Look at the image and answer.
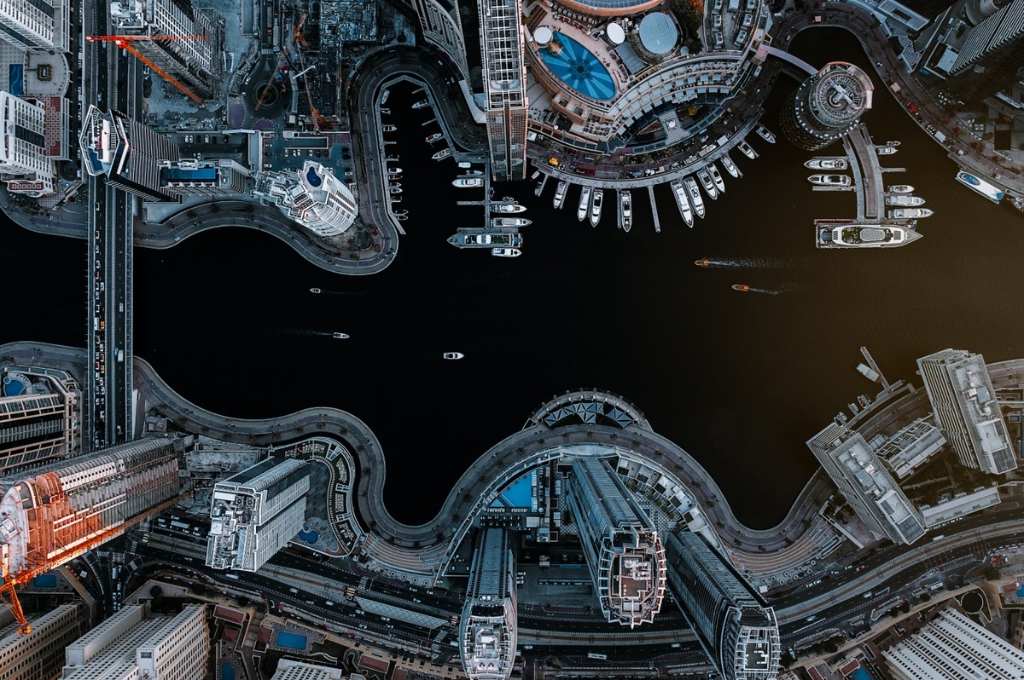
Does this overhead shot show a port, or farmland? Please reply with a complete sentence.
It's a port.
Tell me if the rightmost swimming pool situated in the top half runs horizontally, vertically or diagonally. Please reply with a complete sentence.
I'd say the rightmost swimming pool situated in the top half is aligned diagonally in the picture.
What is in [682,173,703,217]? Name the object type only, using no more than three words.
boat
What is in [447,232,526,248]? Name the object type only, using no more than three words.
boat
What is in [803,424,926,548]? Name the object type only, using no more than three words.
building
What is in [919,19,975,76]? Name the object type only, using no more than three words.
building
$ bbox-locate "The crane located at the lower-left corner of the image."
[0,490,194,638]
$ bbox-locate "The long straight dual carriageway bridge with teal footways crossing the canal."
[87,0,135,451]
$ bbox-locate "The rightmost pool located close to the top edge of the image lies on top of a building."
[538,31,615,100]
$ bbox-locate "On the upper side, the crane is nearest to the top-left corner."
[82,34,208,105]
